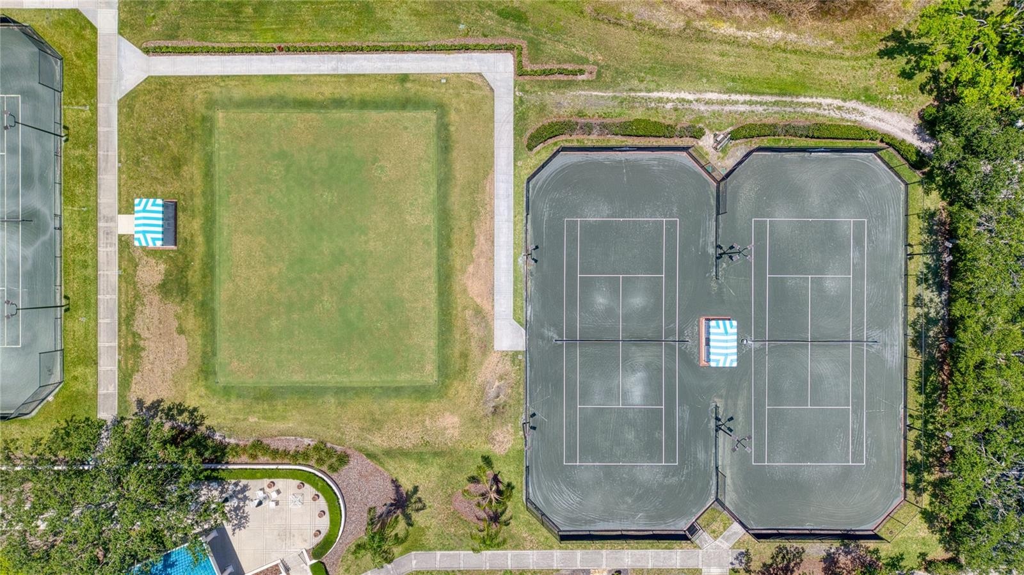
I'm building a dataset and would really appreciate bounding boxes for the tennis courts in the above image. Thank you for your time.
[717,152,905,531]
[0,26,62,414]
[527,152,716,530]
